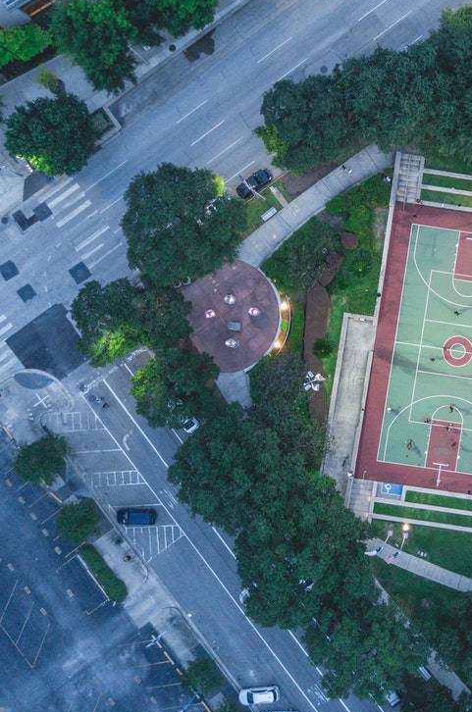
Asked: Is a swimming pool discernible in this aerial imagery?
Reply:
No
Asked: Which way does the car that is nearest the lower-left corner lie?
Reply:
from side to side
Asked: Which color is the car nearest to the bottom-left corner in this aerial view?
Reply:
blue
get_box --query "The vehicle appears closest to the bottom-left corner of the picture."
[116,507,159,528]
